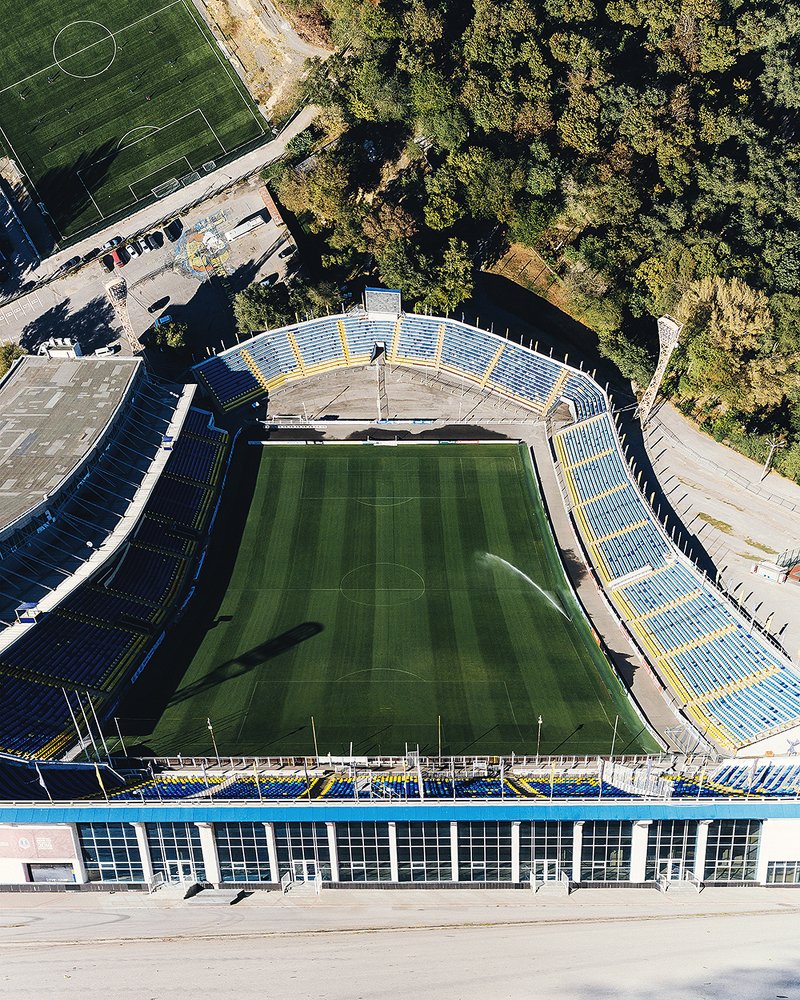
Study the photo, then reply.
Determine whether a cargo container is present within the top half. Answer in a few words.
Yes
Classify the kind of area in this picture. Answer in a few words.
sports ground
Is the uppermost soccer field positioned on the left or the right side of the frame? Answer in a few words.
left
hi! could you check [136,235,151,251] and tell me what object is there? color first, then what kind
white car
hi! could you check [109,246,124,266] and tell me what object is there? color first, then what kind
red car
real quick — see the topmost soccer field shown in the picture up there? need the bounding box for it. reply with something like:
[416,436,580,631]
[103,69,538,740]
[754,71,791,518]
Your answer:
[0,0,279,253]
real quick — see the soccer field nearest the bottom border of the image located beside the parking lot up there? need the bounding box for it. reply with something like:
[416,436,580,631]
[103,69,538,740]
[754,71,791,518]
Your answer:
[97,449,661,755]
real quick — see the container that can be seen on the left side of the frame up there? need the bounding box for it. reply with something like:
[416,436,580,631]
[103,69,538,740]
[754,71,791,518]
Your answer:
[254,180,287,226]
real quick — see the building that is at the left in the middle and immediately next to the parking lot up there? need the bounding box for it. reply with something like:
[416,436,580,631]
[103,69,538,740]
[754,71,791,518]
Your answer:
[0,354,148,571]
